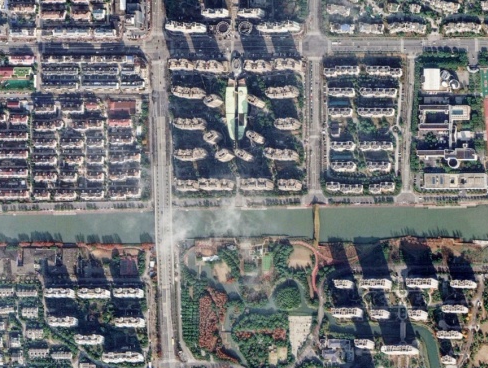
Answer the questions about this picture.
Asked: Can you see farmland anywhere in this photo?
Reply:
No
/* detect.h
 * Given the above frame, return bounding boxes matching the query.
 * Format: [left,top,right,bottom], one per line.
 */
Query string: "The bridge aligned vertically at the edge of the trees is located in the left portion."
[153,149,177,315]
